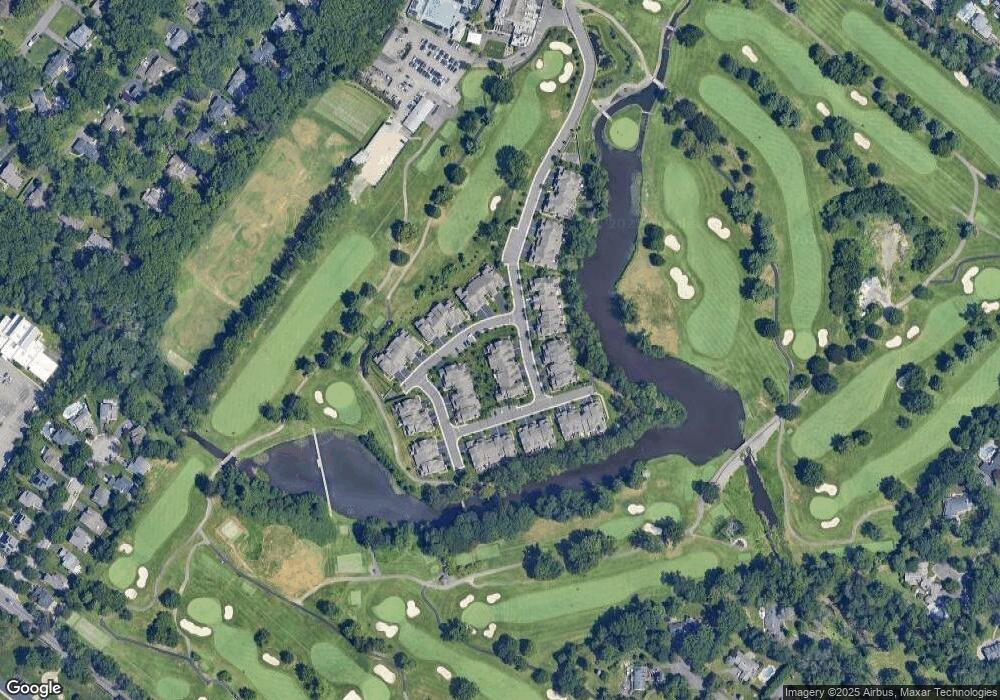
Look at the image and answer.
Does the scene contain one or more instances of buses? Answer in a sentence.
No, no bus is visible in the view.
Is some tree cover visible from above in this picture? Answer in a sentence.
Yes, tree cover shows up in the scene.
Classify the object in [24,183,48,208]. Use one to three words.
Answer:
house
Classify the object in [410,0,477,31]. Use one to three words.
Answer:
building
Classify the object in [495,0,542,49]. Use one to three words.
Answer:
building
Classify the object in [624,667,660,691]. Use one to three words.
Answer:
house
